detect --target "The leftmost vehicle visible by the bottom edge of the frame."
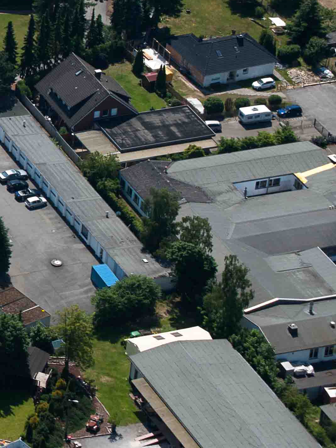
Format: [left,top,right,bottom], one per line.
[87,413,102,434]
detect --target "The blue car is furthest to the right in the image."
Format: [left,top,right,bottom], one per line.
[277,104,303,117]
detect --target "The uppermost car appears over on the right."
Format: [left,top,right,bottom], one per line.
[251,76,276,90]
